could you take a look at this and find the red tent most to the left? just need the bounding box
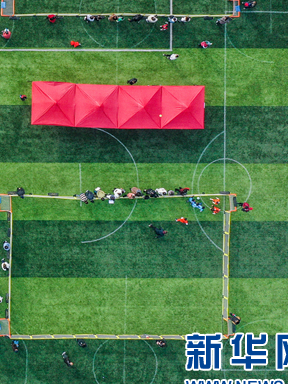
[26,82,75,127]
